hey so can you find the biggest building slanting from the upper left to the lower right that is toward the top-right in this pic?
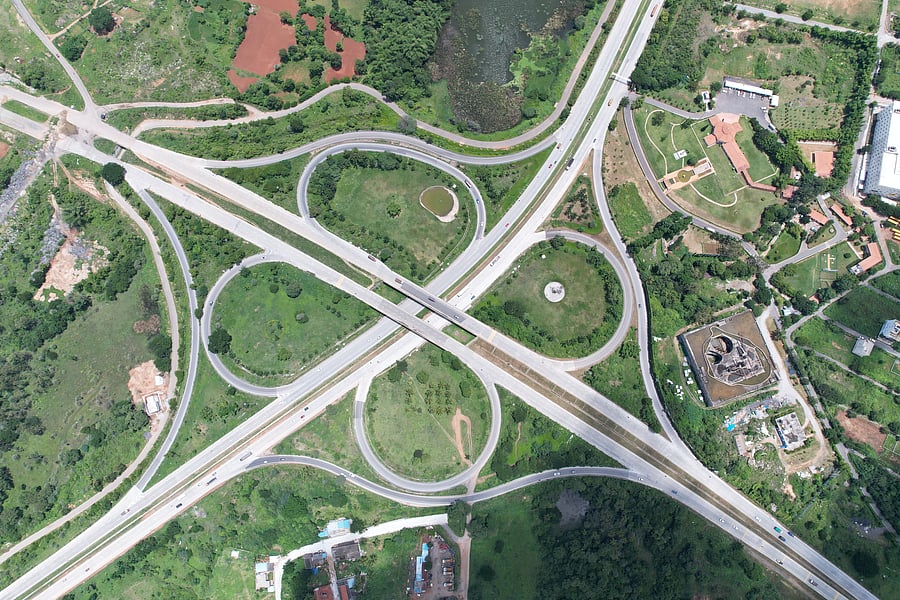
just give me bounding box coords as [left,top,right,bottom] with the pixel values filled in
[702,117,795,199]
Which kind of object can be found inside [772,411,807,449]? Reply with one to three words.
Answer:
house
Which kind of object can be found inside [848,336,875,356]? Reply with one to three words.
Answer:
building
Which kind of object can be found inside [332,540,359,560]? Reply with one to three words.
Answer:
house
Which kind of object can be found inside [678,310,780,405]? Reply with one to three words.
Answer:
building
